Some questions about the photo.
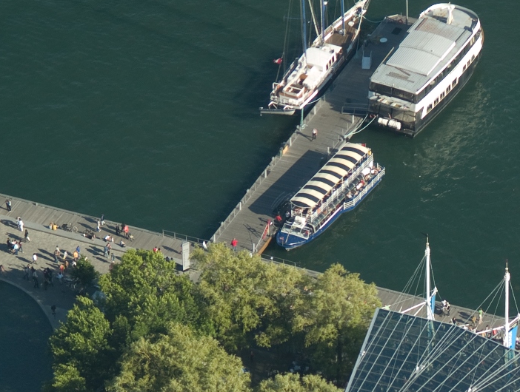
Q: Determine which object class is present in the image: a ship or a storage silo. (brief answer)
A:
ship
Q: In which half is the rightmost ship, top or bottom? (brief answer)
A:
top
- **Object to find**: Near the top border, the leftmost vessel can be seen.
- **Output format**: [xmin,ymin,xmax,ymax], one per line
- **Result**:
[264,0,370,118]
